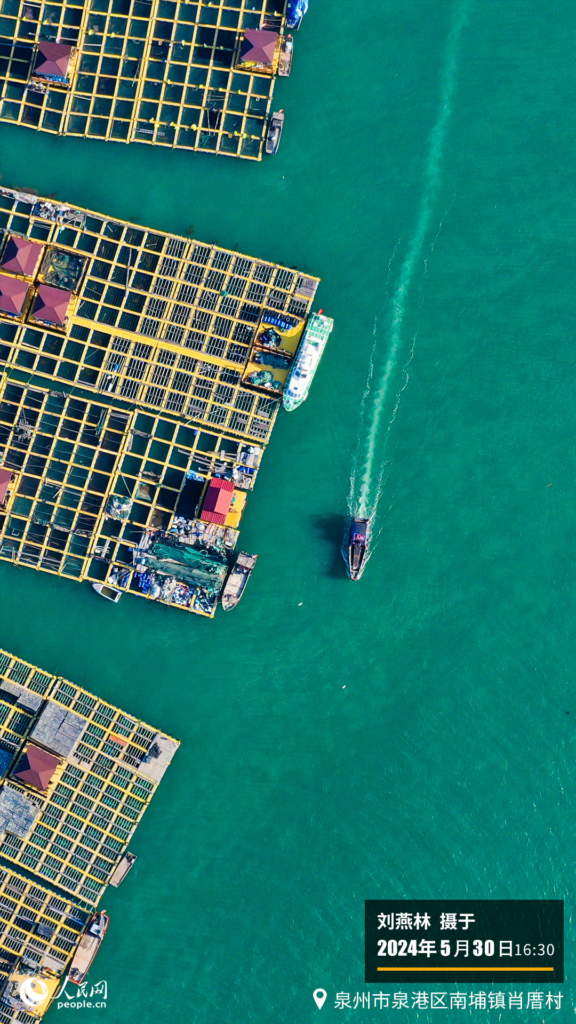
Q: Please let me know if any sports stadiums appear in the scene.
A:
No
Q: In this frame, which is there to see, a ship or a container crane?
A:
ship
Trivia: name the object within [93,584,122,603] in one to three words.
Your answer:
boat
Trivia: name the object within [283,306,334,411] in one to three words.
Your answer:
ship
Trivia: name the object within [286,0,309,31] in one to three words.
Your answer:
boat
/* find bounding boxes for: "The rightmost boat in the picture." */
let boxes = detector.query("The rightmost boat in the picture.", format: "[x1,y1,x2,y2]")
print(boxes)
[349,517,369,581]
